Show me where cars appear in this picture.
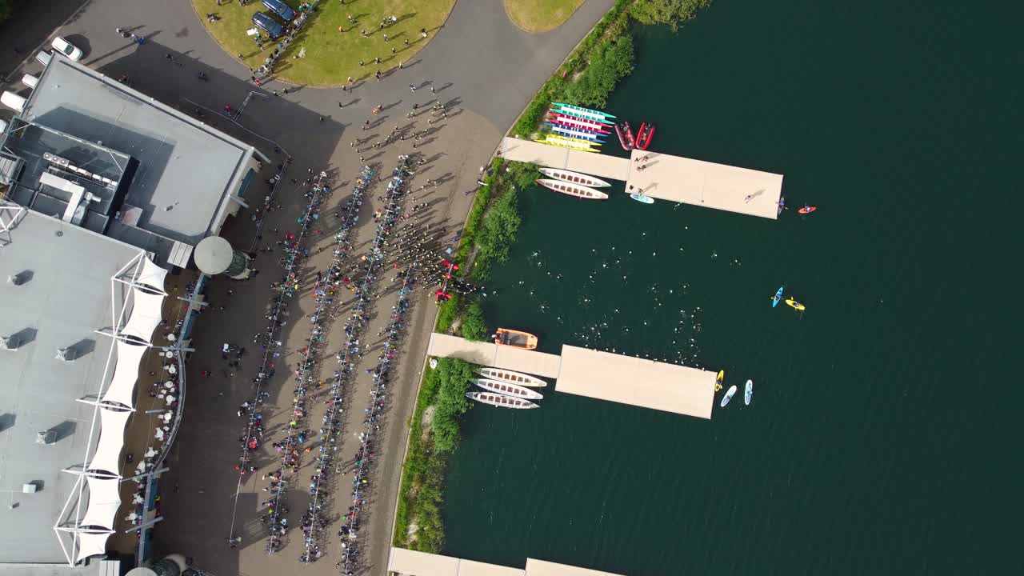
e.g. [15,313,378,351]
[18,71,39,90]
[248,7,286,40]
[259,0,297,22]
[48,34,86,62]
[0,87,28,114]
[32,48,50,67]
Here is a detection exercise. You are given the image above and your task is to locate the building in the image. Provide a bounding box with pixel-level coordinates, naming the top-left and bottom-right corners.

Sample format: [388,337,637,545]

[0,47,279,576]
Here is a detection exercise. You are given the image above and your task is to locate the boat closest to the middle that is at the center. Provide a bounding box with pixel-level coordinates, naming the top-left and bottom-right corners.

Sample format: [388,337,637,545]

[492,329,539,348]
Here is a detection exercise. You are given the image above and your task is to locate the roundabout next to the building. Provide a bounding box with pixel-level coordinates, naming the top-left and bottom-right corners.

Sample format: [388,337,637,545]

[190,0,457,88]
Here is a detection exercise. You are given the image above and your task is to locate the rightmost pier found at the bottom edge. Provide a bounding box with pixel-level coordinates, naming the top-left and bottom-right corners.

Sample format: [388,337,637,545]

[387,547,632,576]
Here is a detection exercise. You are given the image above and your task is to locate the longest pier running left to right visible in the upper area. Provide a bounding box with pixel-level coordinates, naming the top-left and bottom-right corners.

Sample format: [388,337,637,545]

[498,135,784,219]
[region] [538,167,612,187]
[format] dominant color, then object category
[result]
white boat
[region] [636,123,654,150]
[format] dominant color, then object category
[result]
red boat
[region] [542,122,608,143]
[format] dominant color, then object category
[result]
white boat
